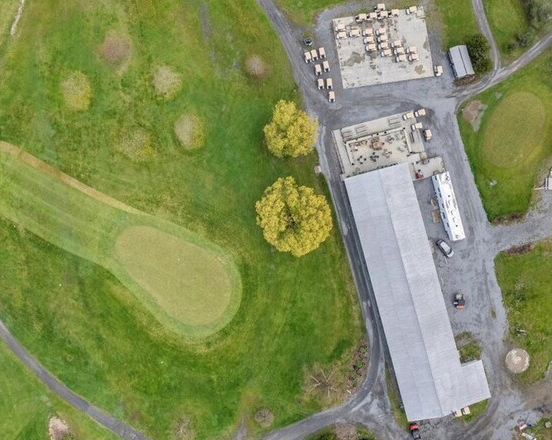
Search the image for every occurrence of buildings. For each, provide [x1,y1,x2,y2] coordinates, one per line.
[343,162,491,421]
[447,45,474,79]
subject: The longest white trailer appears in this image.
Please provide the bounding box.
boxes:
[433,170,464,240]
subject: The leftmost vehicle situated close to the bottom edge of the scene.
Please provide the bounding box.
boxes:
[409,423,421,440]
